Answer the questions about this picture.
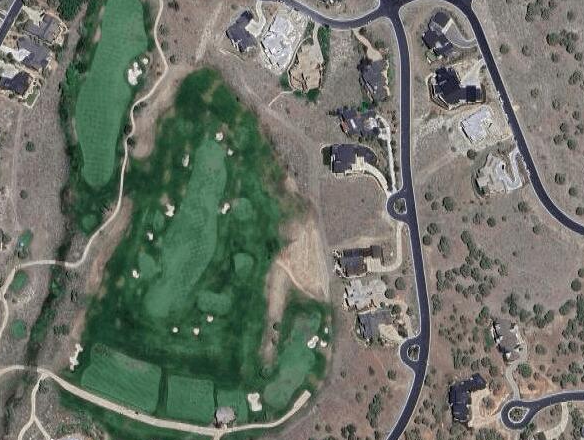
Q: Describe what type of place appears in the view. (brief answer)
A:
golf course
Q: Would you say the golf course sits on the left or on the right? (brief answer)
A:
left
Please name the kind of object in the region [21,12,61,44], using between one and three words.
house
